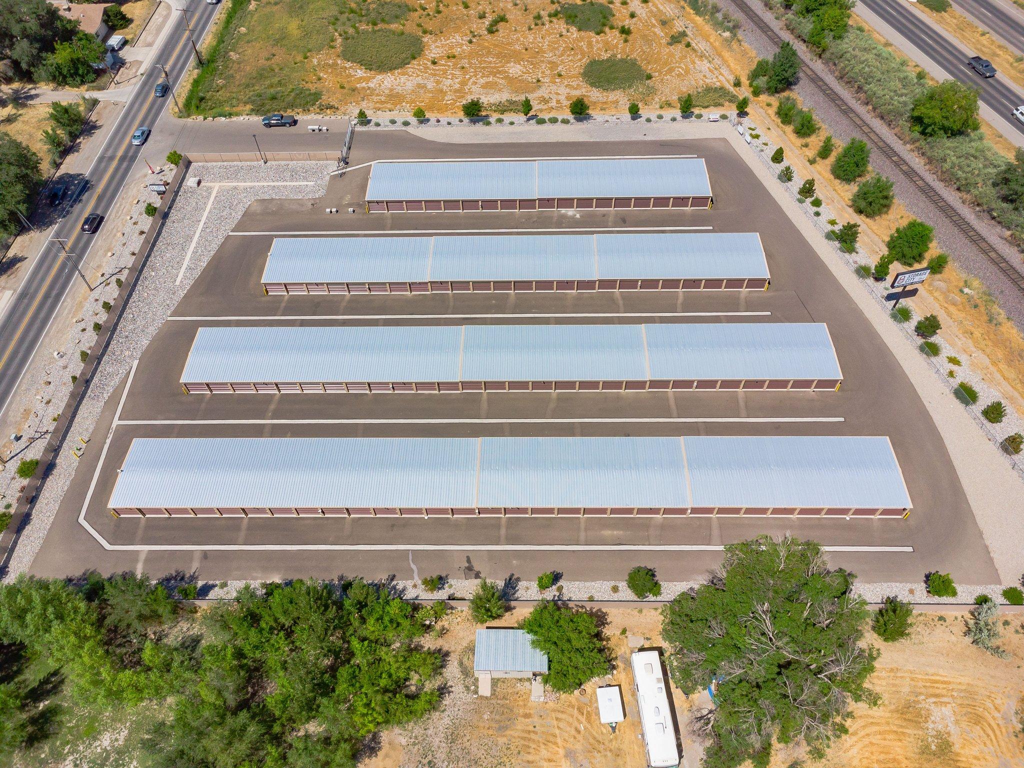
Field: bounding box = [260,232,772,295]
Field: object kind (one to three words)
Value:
building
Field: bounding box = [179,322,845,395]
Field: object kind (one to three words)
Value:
building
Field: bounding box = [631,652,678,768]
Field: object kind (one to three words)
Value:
camper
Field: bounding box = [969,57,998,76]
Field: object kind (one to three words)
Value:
vehicle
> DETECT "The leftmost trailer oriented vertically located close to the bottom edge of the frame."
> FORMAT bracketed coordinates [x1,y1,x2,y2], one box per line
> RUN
[597,686,623,741]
